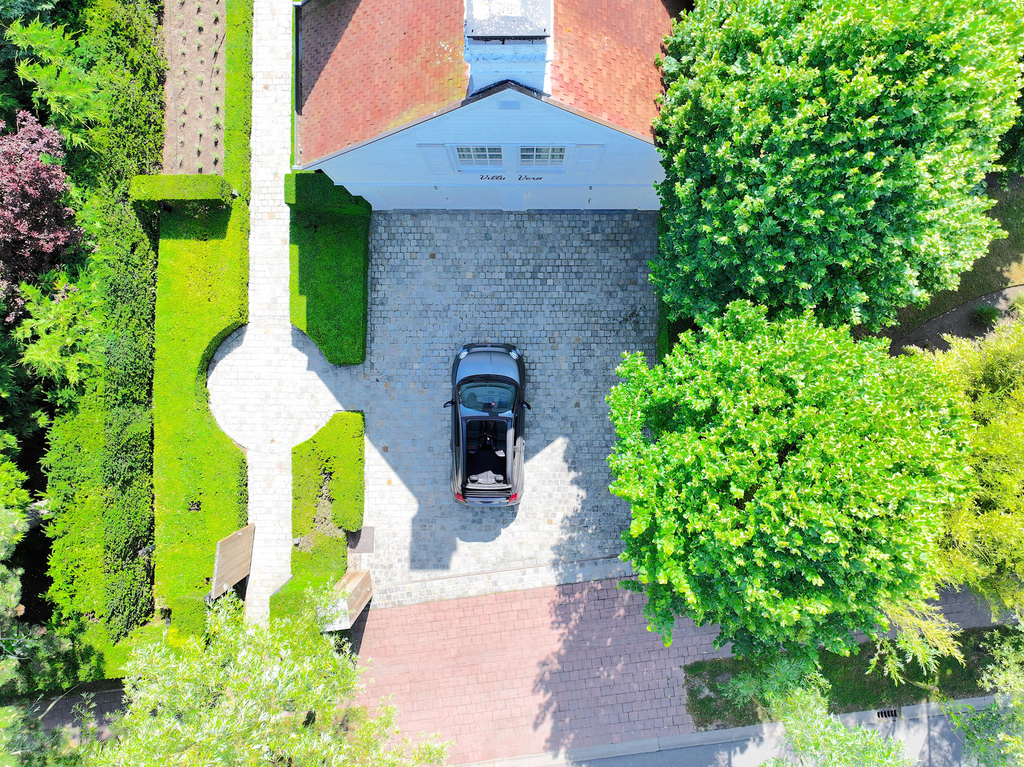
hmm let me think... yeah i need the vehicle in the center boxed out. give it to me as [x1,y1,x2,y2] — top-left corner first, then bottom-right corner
[442,343,532,508]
